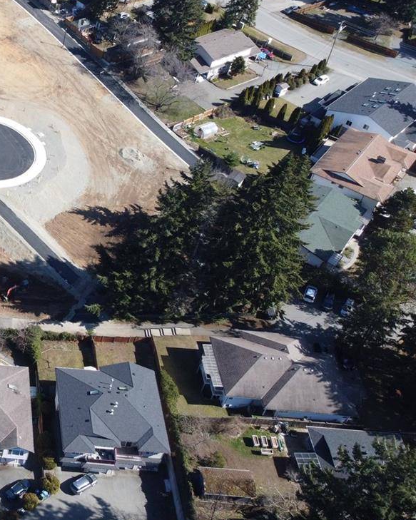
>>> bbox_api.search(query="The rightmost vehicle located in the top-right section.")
[315,71,331,84]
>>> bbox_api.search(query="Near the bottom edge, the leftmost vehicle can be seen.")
[2,475,31,500]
